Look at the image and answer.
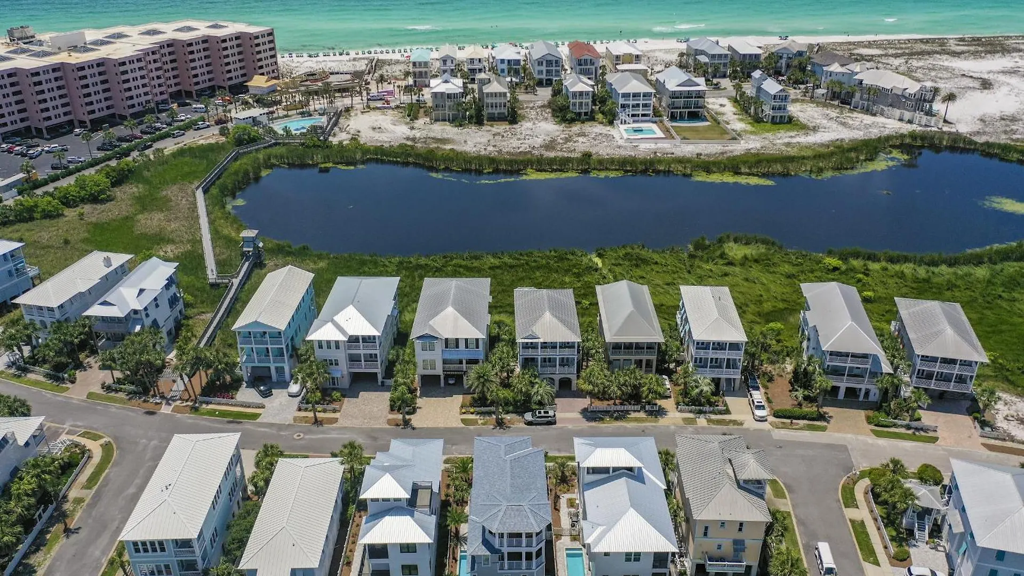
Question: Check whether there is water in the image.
Yes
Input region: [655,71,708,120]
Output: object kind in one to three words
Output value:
house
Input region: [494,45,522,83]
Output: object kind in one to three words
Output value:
house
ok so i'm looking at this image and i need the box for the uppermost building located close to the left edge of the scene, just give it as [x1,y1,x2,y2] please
[0,18,286,139]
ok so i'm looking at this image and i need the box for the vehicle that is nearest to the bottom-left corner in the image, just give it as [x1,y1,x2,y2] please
[251,376,272,398]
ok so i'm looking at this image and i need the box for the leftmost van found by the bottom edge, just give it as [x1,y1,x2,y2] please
[812,531,841,576]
